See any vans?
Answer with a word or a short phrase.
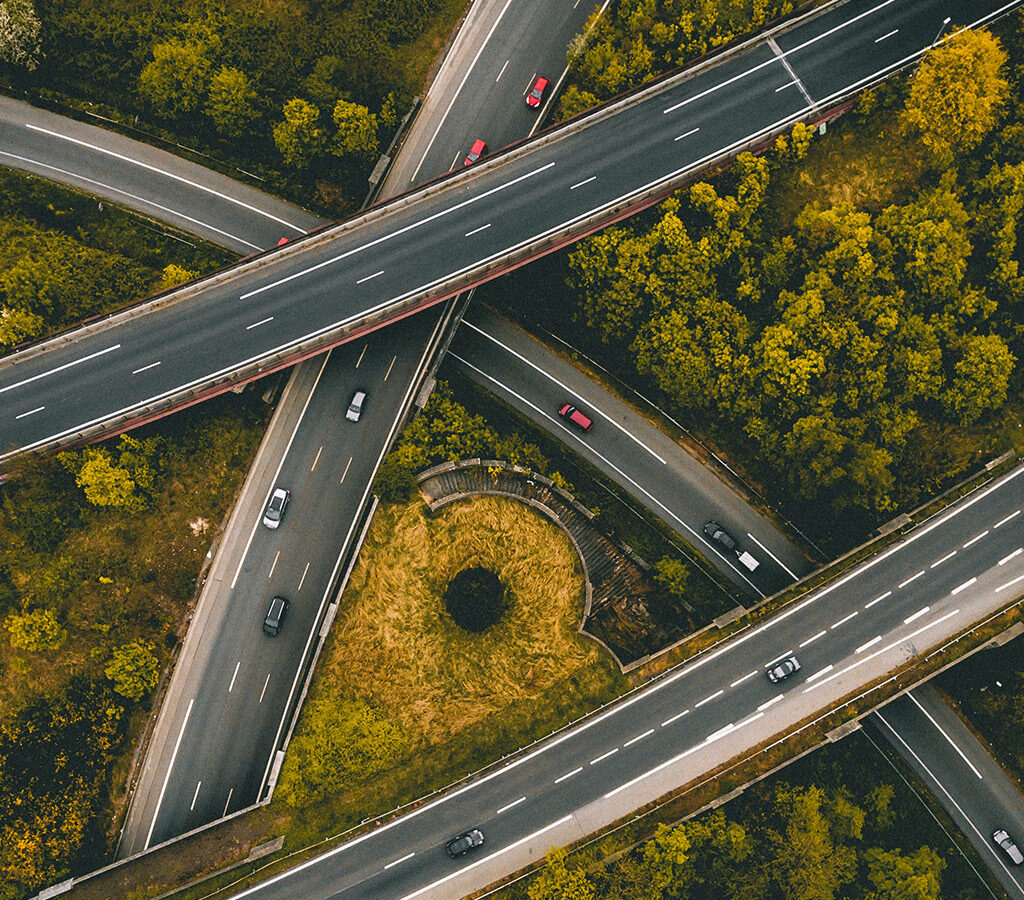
Yes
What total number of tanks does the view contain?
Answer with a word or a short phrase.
0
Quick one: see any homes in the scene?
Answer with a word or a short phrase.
No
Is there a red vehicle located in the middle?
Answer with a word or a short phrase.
Yes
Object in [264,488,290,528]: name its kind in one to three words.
car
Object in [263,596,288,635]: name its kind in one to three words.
car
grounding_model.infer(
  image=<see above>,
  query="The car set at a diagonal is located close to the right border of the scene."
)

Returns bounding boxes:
[991,829,1024,864]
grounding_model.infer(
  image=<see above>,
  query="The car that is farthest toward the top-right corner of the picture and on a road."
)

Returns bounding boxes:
[524,74,550,110]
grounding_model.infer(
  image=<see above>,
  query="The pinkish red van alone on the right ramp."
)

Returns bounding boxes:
[559,402,592,430]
